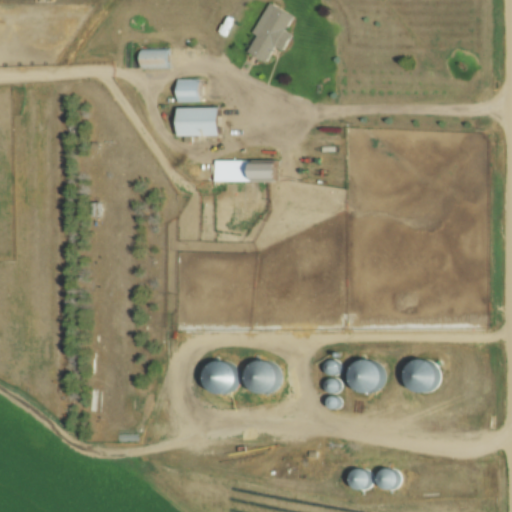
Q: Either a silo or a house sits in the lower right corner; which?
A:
silo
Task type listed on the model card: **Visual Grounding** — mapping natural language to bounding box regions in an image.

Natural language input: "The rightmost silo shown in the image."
[402,358,443,394]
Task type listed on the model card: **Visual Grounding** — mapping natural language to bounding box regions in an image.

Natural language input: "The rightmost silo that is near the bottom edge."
[376,466,404,490]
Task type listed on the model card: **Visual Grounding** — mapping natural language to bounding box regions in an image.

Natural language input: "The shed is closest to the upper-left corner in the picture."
[135,50,170,69]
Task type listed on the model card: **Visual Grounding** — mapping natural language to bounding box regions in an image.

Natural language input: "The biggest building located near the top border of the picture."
[248,3,296,64]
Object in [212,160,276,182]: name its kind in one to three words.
barn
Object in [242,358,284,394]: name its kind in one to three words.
silo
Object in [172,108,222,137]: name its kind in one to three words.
shed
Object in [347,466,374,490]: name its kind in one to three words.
silo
